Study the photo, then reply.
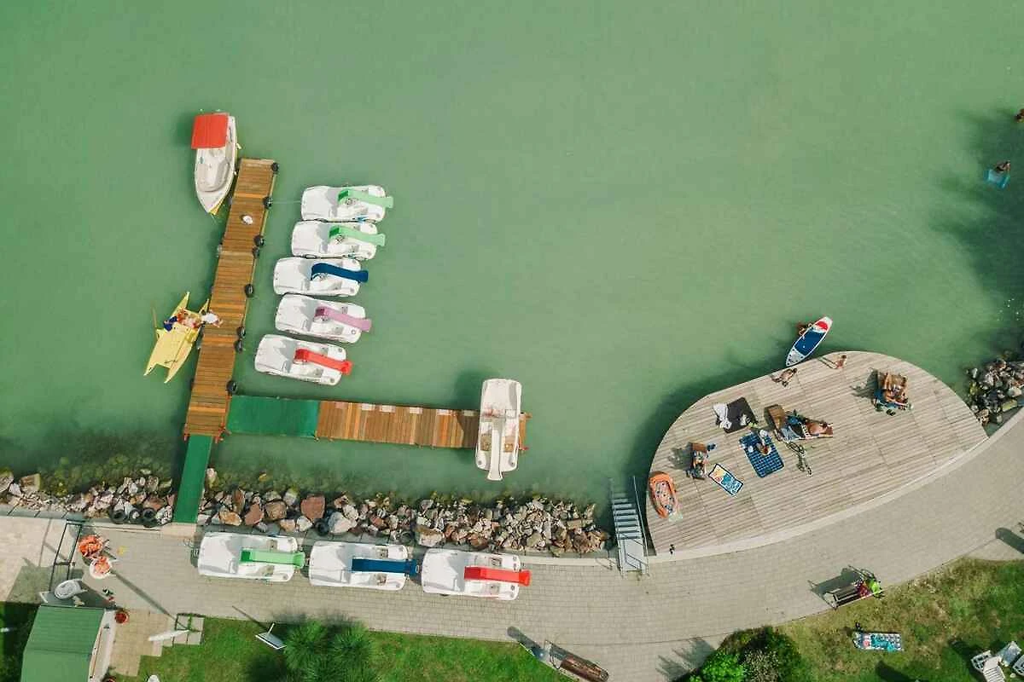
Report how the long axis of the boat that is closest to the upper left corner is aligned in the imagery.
vertically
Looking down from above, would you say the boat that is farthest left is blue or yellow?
yellow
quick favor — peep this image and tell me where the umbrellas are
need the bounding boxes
[150,629,192,641]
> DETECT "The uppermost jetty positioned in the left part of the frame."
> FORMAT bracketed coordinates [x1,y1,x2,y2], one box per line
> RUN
[180,158,528,450]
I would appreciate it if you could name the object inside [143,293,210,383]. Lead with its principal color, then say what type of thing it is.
yellow boat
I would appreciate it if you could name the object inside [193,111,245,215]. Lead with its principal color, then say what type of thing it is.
white boat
